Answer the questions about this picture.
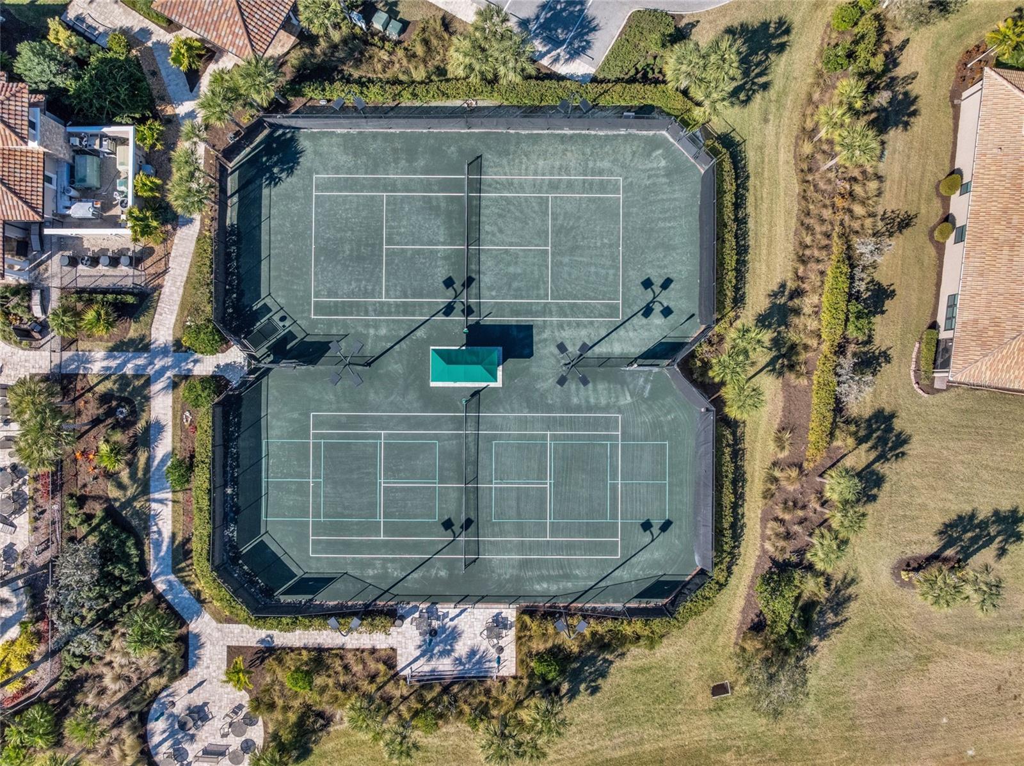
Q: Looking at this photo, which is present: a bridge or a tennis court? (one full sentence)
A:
Of the two, only a tennis court appears.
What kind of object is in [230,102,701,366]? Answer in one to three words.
tennis court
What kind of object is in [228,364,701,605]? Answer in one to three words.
tennis court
